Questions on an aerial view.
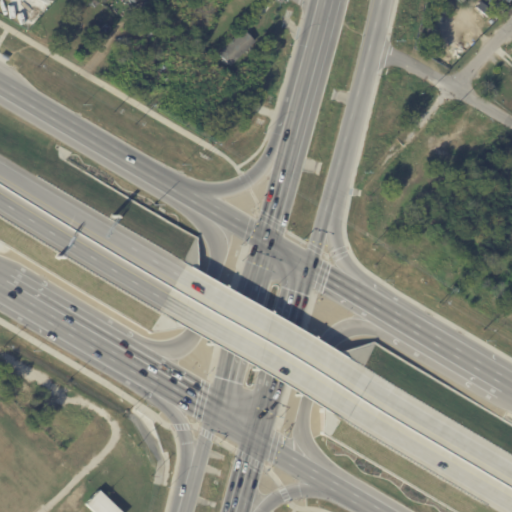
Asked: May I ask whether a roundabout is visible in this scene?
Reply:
No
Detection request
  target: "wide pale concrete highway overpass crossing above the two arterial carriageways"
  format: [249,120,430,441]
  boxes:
[158,262,378,423]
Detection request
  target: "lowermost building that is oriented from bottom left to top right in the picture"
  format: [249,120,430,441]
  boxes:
[222,30,258,64]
